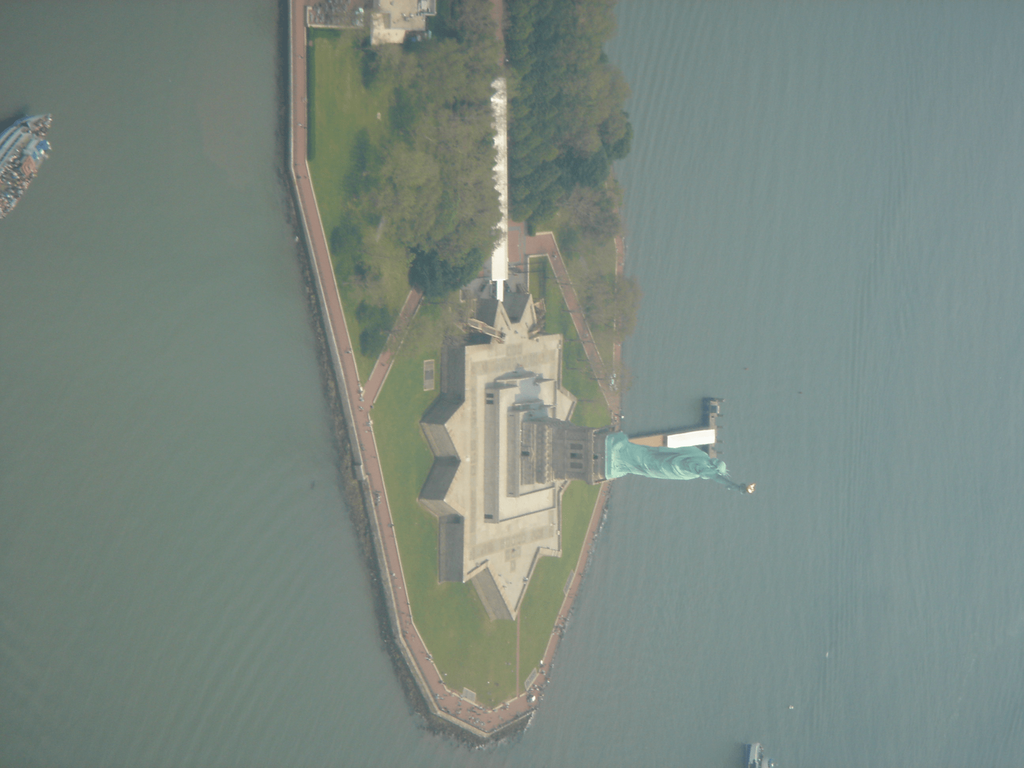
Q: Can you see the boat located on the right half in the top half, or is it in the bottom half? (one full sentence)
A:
You can find the boat located on the right half in the bottom half.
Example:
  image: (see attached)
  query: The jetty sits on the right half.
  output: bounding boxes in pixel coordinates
[662,397,726,460]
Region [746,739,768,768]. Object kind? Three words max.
boat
